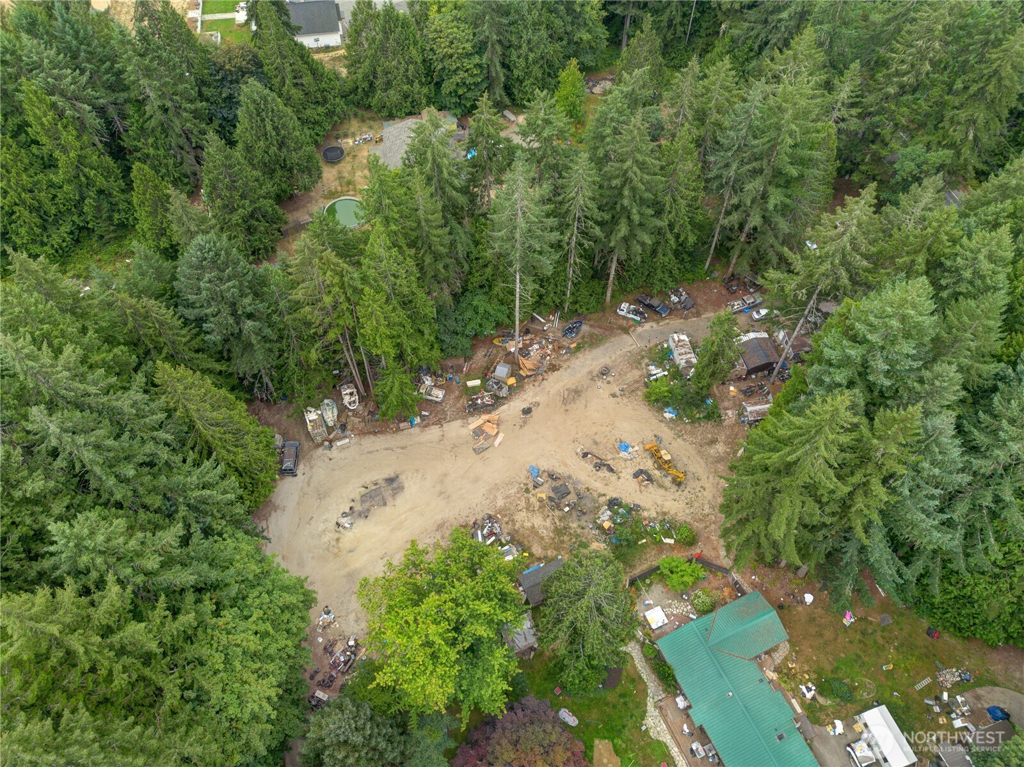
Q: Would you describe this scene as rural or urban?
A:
rural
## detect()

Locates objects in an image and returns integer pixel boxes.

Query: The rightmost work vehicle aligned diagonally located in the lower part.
[639,441,693,490]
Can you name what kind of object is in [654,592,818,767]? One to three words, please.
building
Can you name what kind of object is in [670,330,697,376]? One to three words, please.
trailer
